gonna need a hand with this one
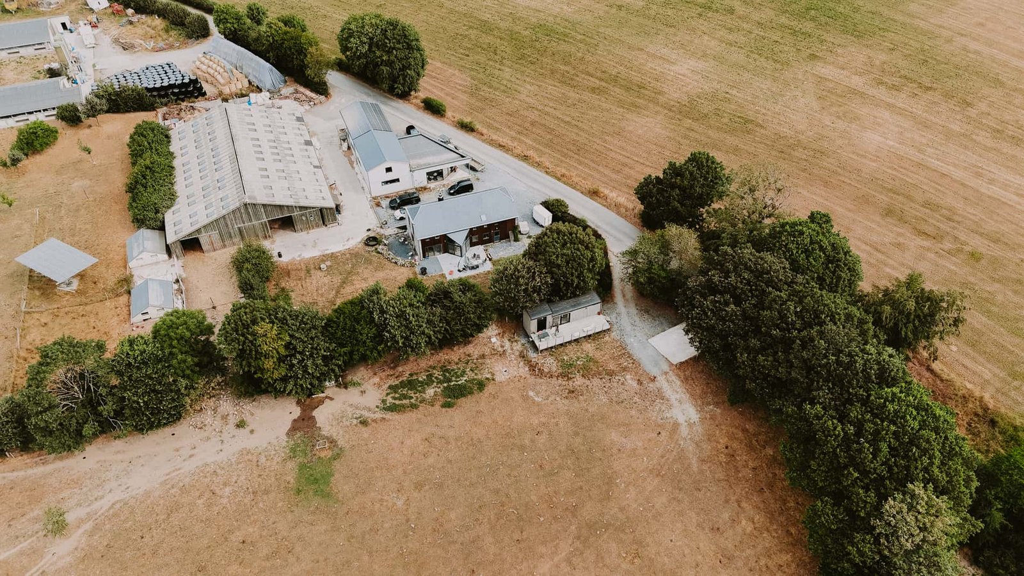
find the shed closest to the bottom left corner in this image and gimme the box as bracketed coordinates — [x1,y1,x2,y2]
[131,278,180,327]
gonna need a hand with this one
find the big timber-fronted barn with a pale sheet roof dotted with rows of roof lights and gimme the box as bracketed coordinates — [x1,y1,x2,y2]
[164,102,338,261]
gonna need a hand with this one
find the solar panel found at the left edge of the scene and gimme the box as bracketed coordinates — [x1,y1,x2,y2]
[15,238,98,293]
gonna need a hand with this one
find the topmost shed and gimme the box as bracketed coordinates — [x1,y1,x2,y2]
[0,13,76,70]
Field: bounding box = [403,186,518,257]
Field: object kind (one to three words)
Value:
house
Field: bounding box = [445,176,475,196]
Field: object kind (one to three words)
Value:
vehicle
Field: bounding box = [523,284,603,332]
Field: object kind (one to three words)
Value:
building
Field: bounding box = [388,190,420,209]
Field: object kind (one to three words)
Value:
car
